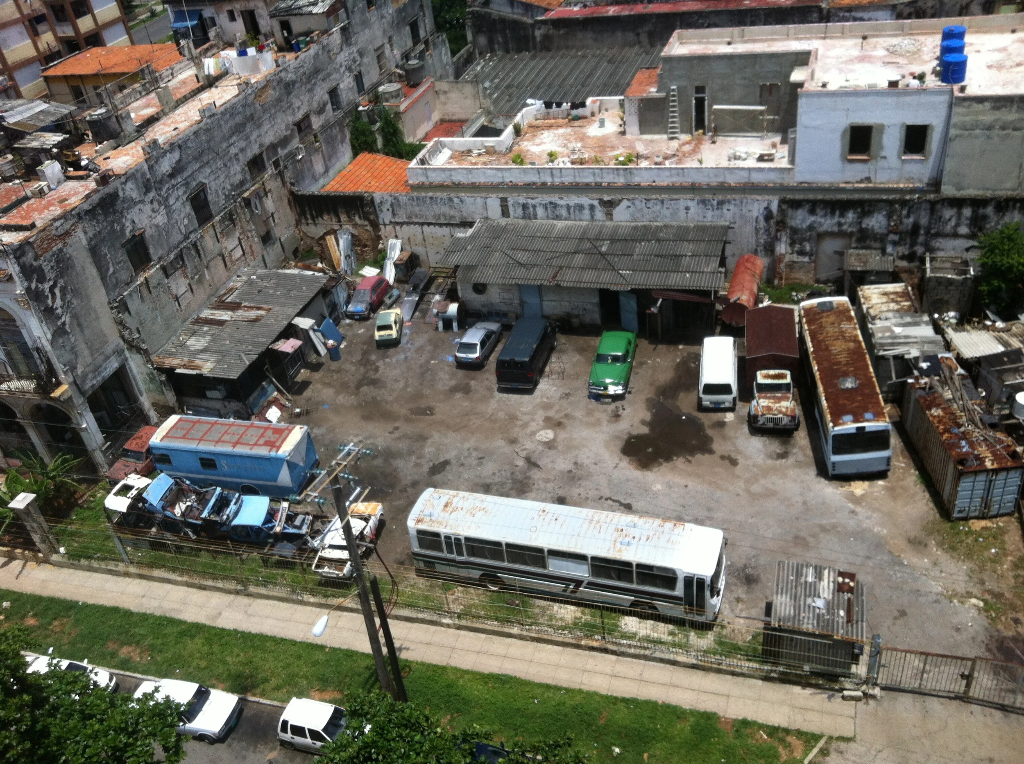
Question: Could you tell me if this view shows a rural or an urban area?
urban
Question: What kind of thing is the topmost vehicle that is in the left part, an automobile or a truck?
automobile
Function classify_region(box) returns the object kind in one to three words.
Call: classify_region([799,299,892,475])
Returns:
bus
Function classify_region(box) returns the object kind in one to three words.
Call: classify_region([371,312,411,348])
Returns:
car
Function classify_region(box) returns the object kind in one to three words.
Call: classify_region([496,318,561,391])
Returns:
van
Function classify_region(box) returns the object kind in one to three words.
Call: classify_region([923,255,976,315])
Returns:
shed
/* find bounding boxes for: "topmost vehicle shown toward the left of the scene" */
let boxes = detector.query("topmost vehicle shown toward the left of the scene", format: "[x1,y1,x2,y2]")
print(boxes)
[346,272,397,320]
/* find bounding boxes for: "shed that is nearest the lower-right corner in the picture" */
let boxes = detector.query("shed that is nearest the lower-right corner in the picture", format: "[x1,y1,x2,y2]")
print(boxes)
[763,561,864,674]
